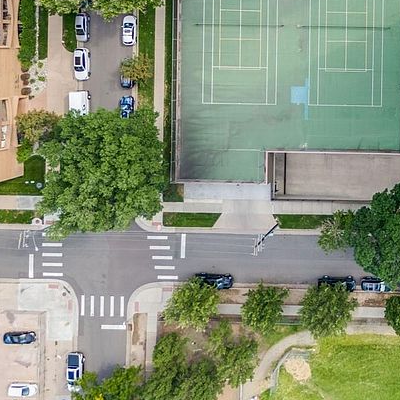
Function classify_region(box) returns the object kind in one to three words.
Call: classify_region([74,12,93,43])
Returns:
car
